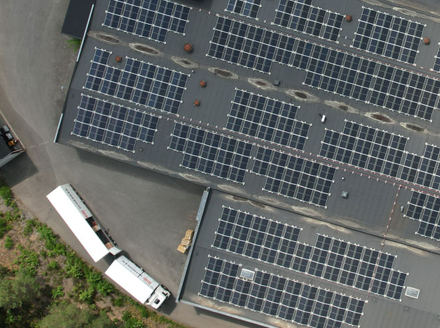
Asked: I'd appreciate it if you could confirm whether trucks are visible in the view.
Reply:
Yes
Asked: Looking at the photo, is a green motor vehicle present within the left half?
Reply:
No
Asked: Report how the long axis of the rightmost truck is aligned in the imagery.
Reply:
diagonally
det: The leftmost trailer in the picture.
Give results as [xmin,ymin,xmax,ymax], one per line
[47,182,116,261]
